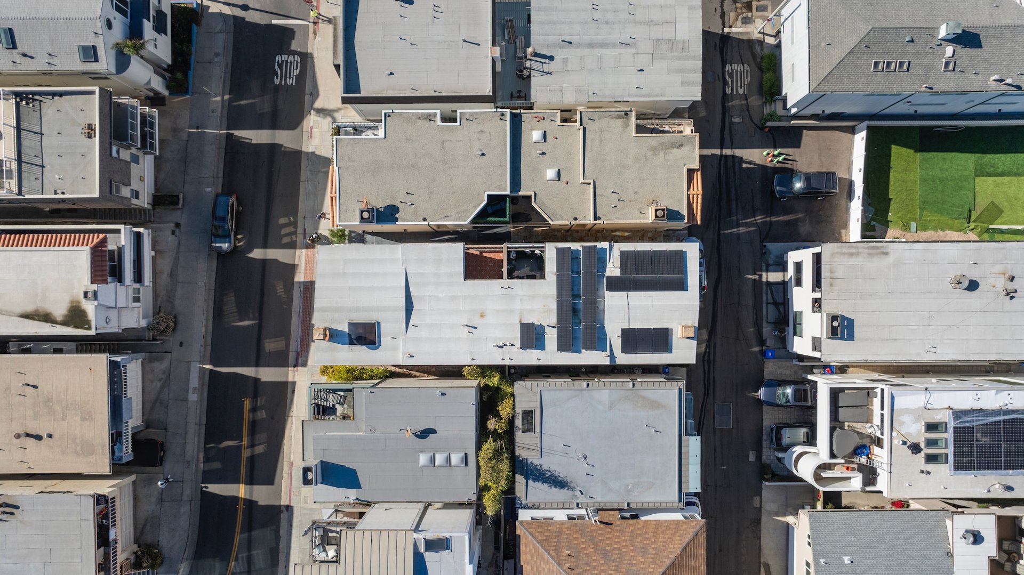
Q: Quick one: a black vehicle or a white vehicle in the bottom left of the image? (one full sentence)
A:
There is a black vehicle in the bottom left of the image.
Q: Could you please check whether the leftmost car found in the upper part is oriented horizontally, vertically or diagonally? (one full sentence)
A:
What the image shows is the leftmost car found in the upper part lying vertically.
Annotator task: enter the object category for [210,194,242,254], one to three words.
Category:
car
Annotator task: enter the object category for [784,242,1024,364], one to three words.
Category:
house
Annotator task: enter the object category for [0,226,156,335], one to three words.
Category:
house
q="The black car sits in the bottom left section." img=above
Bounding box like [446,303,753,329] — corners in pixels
[127,438,176,467]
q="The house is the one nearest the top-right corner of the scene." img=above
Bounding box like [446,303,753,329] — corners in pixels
[775,0,1024,115]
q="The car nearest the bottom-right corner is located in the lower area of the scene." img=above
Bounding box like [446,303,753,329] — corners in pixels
[765,423,815,446]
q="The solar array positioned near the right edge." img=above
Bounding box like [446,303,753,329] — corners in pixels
[951,418,1024,470]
